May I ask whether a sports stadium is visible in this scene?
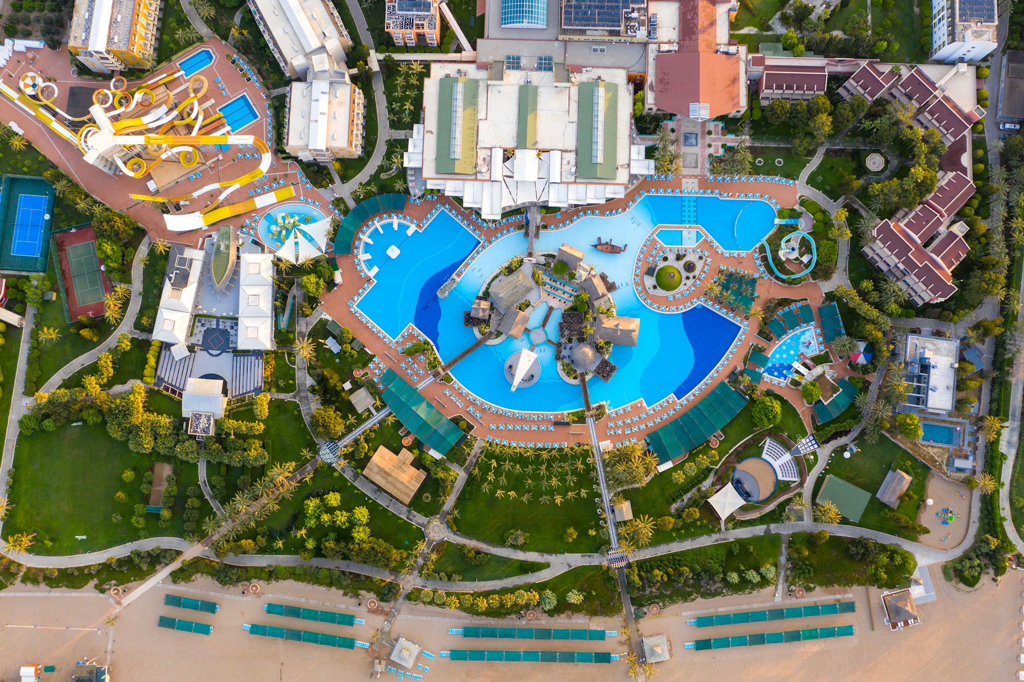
Yes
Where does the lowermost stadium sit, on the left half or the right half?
right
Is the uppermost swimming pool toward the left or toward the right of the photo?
left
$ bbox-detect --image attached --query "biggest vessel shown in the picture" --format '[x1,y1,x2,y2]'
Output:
[591,236,627,253]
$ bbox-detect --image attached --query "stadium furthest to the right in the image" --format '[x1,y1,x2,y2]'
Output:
[732,456,780,504]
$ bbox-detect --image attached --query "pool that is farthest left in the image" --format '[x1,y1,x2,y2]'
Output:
[177,48,215,79]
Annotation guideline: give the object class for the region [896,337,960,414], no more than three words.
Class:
house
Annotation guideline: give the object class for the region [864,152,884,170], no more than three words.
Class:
gazebo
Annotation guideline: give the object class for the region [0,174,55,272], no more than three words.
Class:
tennis court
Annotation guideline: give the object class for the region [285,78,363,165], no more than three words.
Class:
building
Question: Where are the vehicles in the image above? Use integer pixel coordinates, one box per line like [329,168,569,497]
[1000,134,1010,139]
[1000,123,1013,129]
